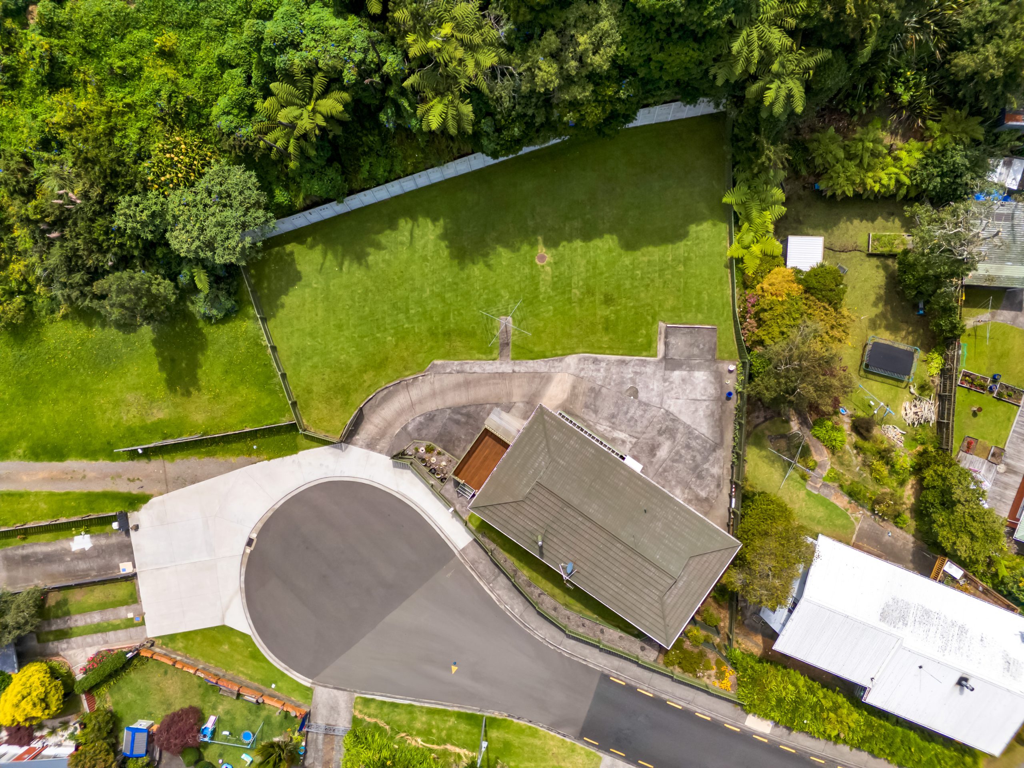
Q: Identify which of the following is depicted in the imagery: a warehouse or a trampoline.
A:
trampoline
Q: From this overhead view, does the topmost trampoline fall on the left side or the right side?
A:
right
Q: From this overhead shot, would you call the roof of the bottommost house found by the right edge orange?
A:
No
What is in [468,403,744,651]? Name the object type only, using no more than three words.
house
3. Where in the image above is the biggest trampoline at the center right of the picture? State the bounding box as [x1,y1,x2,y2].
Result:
[858,336,919,381]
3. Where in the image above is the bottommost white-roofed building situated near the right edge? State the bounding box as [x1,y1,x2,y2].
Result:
[765,533,1024,757]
